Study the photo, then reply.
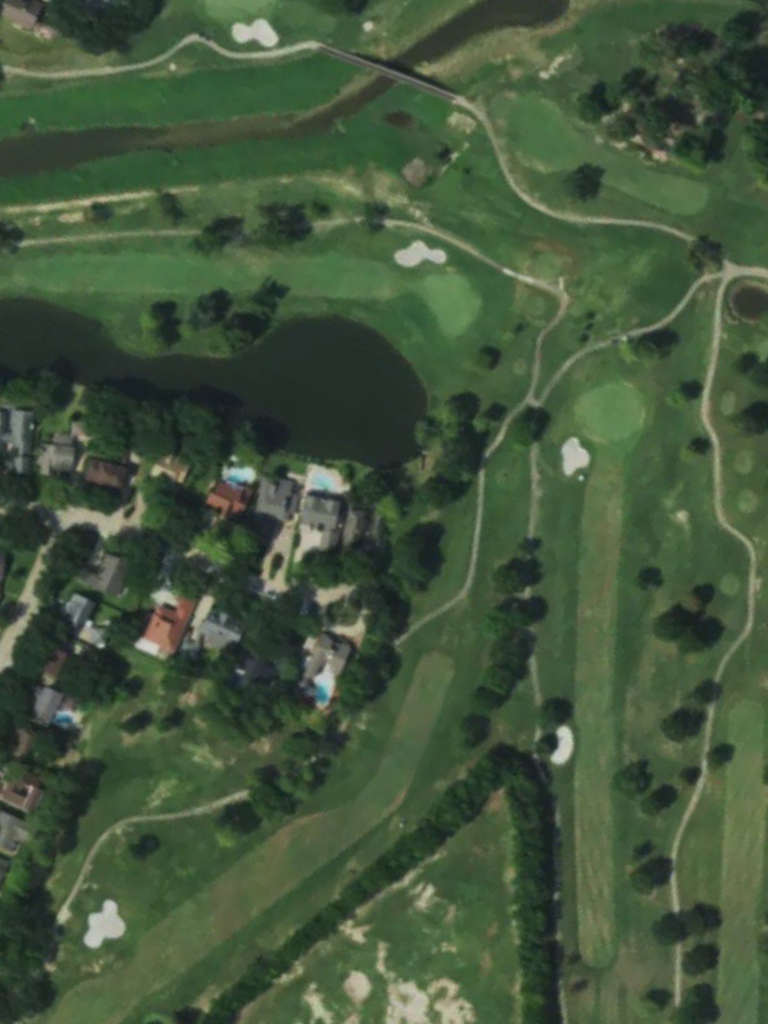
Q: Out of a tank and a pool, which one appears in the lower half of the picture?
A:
pool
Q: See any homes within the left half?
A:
Yes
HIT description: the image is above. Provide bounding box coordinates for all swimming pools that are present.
[56,709,83,727]
[223,466,256,485]
[305,464,349,493]
[313,665,336,707]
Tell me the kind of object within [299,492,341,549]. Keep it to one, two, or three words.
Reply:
house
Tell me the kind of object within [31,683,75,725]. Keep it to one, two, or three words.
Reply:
house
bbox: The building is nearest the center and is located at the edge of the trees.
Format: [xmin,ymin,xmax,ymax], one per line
[342,502,383,545]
